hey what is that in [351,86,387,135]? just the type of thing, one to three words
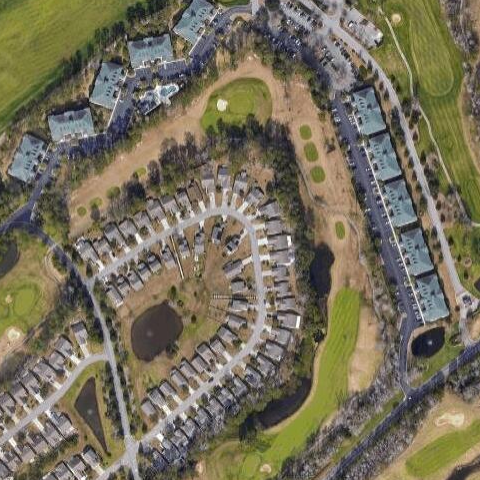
building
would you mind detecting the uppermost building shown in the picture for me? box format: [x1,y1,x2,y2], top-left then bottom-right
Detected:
[174,0,220,44]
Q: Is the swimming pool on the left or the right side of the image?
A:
left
